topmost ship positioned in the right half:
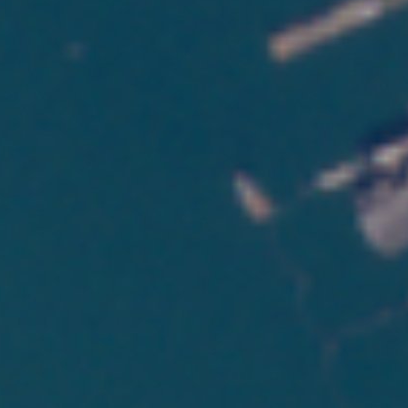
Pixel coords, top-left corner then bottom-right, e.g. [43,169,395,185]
[313,167,349,191]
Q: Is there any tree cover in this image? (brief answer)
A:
No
